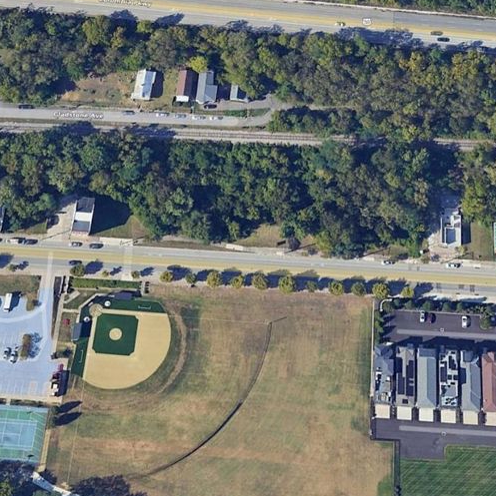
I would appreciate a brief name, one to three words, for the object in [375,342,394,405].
house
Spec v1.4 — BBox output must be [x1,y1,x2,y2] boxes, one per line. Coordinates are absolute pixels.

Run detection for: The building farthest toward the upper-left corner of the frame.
[132,69,156,105]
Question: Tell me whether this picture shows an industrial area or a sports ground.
sports ground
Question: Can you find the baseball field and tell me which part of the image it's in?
bottom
